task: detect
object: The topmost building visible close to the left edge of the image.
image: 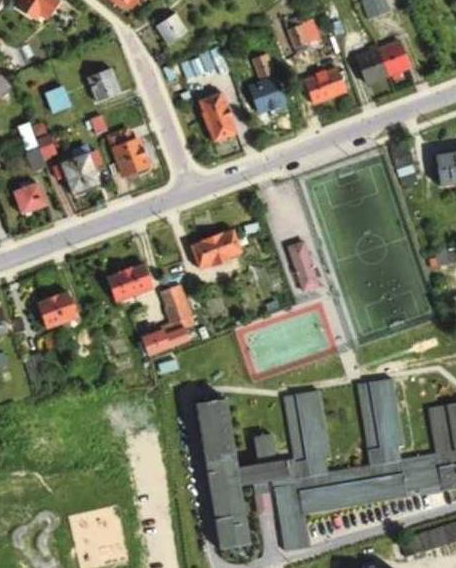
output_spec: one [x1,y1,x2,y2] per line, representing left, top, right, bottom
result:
[17,0,60,25]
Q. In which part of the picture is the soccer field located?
right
